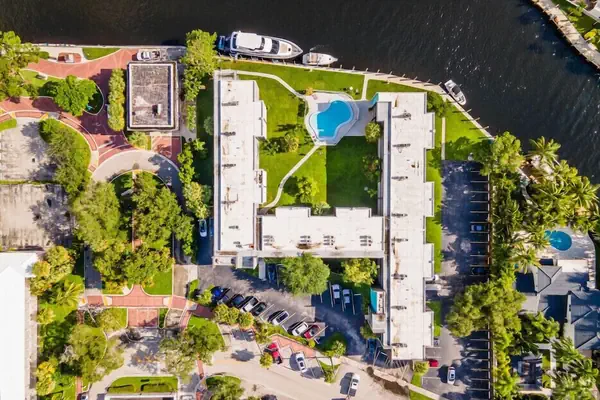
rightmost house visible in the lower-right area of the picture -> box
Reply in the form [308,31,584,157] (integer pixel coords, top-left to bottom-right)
[531,265,600,343]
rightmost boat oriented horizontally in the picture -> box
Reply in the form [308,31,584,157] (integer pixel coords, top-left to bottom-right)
[301,54,337,66]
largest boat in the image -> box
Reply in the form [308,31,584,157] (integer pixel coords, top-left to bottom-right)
[227,32,304,60]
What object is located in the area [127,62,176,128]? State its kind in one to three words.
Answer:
house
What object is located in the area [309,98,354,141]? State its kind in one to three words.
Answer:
swimming pool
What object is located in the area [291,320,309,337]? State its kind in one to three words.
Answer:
car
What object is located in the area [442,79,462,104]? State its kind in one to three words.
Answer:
boat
